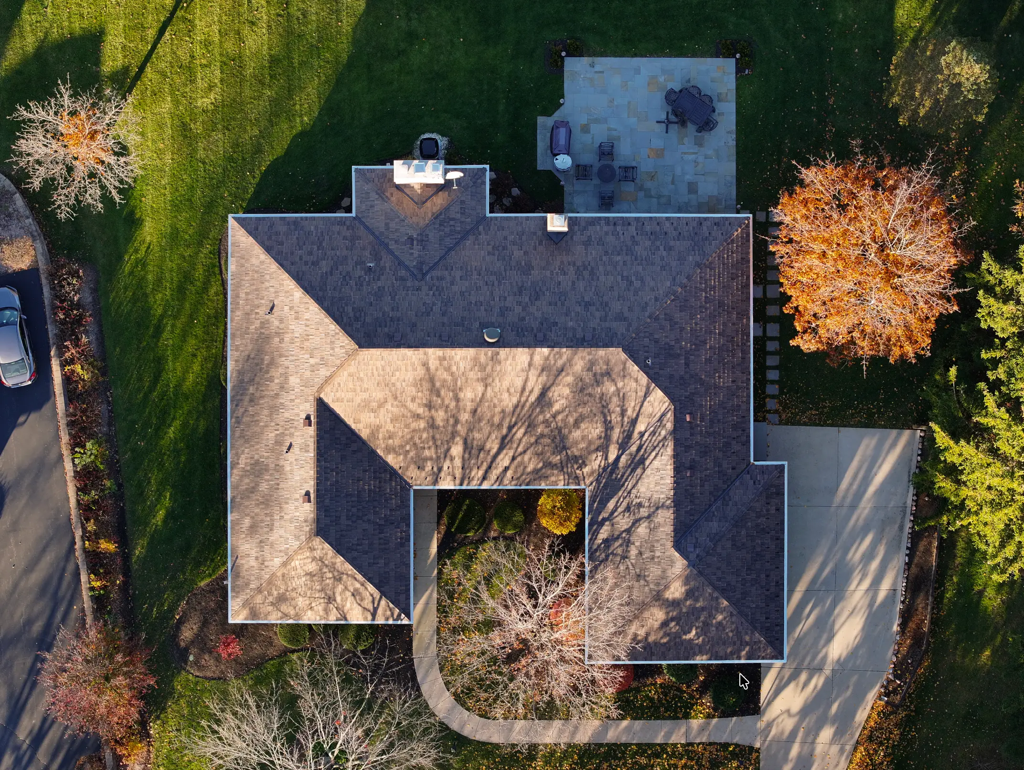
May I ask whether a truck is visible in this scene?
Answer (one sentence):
No, the picture doesn't show any truck.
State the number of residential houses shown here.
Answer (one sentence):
The picture shows just 1 residential house.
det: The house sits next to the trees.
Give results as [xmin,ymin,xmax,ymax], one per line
[227,160,786,664]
